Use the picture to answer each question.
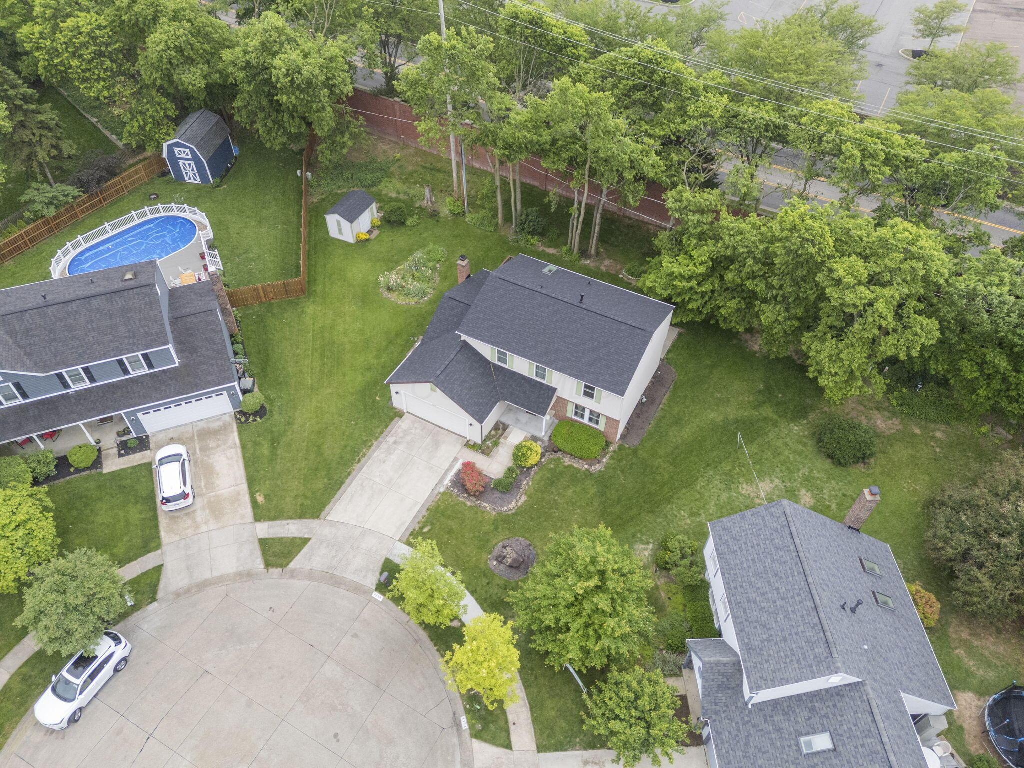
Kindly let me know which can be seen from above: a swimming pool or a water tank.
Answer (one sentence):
I can see a swimming pool in this picture.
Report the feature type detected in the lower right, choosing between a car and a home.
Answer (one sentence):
Looking in the lower right, you will find a home.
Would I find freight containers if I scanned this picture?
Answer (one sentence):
No, there's no freight container here.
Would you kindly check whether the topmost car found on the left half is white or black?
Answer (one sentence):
The topmost car found on the left half is white.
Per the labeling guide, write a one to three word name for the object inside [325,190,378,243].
shed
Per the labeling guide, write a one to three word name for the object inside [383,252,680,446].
house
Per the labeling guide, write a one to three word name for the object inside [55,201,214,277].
swimming pool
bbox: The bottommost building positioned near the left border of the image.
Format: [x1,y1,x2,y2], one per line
[0,256,242,479]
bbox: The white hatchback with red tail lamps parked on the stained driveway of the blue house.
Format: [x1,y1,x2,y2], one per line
[154,443,194,506]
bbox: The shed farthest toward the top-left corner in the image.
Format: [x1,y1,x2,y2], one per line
[162,112,233,183]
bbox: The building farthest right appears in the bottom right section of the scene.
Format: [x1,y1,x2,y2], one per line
[682,488,973,768]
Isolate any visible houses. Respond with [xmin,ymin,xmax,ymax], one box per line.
[682,488,973,768]
[0,256,242,479]
[383,252,680,446]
